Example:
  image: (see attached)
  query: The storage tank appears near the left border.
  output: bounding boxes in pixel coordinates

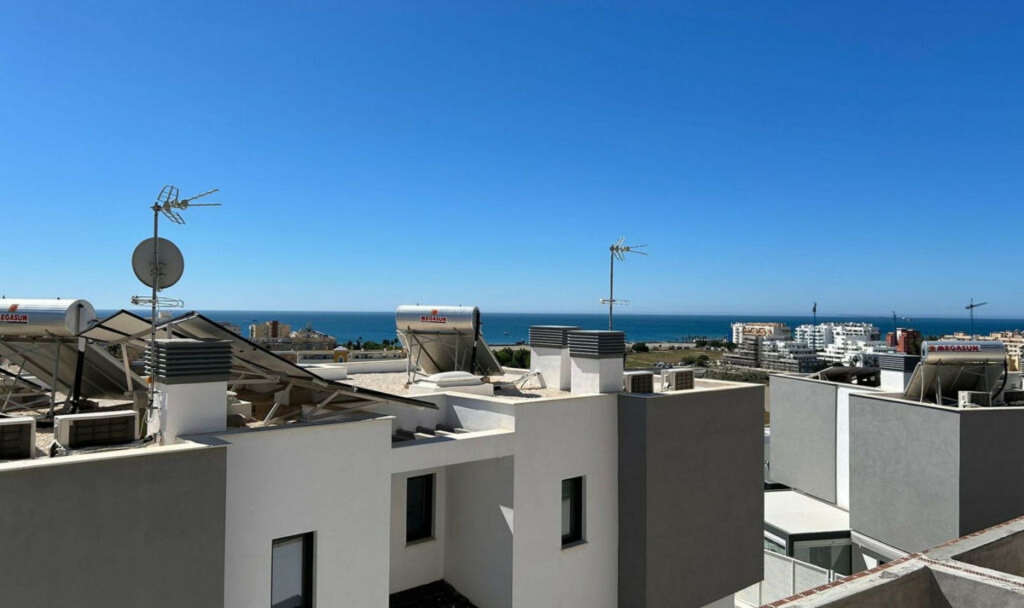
[0,299,87,339]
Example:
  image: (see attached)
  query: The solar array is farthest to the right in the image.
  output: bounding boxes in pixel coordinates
[795,366,879,382]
